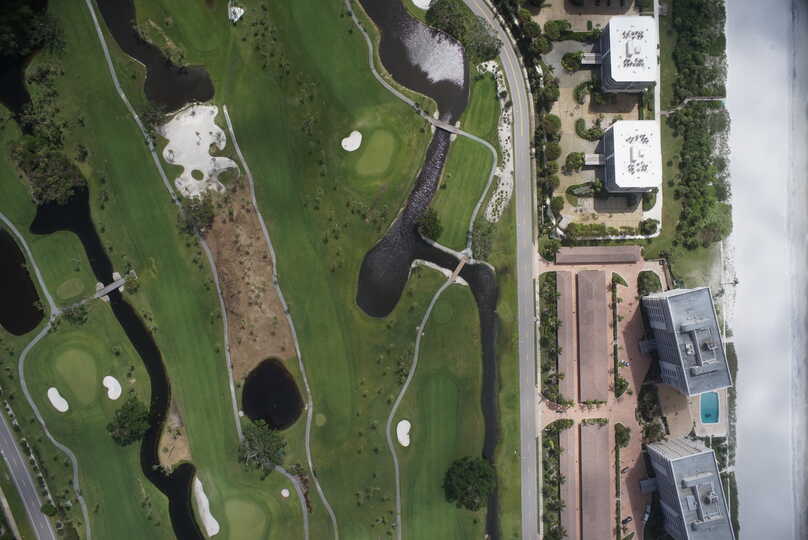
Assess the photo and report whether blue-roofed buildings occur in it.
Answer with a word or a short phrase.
No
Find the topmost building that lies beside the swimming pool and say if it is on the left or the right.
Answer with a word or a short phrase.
right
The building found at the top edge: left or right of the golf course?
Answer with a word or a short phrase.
on its right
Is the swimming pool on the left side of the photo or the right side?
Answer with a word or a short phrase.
right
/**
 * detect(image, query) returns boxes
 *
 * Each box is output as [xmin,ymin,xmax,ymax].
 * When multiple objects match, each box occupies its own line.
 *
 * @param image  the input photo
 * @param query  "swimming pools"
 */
[700,390,720,425]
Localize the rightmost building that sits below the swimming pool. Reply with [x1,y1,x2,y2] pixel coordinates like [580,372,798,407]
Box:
[637,438,735,540]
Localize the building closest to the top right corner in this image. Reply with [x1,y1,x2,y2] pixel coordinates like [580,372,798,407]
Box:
[600,16,657,91]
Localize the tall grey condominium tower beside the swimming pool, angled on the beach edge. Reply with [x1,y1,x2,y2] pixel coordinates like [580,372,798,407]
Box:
[634,287,732,396]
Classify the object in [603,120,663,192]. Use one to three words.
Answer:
building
